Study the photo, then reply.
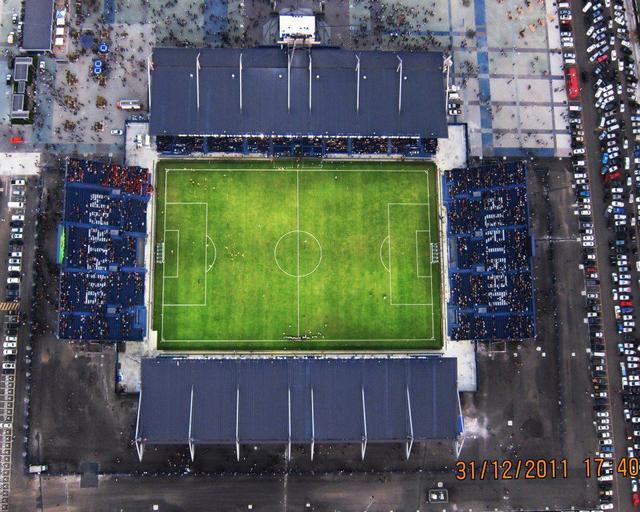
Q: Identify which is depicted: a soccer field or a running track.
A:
soccer field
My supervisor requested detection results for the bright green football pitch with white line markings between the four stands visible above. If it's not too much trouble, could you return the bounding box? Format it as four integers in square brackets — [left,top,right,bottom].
[152,160,442,351]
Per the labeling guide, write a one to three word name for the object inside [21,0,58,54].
building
